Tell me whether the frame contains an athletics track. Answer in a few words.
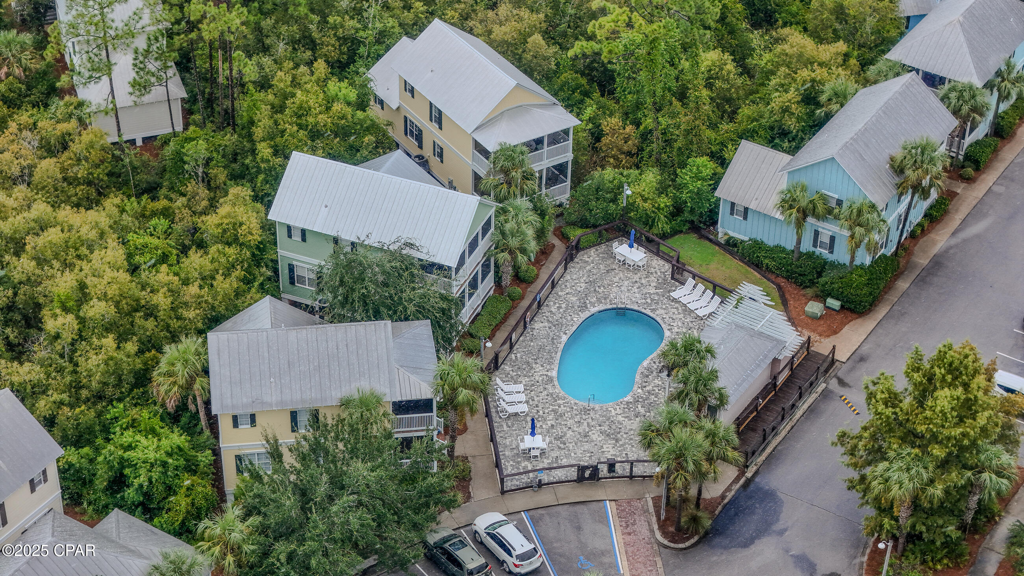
No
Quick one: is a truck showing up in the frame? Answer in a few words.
No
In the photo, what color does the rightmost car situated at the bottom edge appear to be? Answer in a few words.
white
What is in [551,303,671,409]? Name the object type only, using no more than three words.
swimming pool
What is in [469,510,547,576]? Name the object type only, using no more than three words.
car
